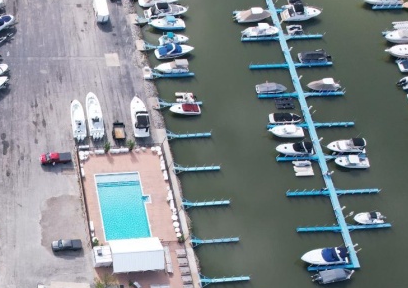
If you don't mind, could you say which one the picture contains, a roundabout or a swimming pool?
swimming pool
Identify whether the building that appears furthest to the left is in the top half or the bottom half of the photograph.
bottom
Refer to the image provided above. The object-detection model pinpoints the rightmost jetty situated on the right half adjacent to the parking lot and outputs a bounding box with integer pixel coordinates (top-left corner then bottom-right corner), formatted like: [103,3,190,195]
[270,0,363,269]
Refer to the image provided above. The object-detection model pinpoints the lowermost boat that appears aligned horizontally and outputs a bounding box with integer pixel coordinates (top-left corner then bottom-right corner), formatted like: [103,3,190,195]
[313,270,352,286]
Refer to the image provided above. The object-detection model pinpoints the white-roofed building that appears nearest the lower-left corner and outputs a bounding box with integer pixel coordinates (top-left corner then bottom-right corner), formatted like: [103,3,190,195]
[88,244,112,272]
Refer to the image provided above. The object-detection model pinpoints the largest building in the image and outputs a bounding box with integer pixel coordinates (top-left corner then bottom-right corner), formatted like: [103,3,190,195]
[108,240,165,277]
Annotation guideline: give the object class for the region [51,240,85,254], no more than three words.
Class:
vehicle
